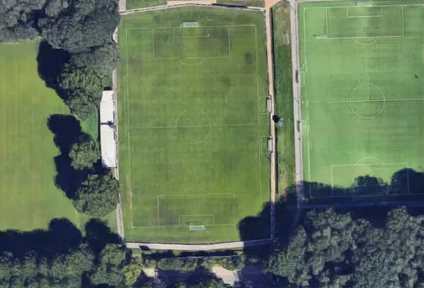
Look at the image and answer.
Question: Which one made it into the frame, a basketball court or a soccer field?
soccer field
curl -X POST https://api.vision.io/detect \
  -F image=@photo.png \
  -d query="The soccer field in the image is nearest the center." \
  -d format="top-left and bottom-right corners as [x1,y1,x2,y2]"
[118,4,272,245]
